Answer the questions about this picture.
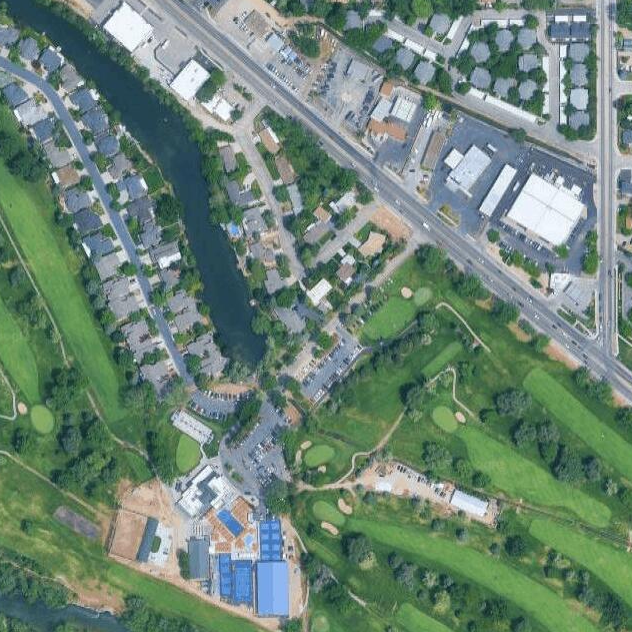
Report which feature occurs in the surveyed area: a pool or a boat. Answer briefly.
pool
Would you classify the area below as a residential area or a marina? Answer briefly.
residential area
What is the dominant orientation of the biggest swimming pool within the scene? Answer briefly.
at an angle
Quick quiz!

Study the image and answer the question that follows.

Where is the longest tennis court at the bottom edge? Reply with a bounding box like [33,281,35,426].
[234,560,252,601]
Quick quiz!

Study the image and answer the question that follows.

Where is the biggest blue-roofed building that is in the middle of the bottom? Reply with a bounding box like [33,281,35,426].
[258,562,289,618]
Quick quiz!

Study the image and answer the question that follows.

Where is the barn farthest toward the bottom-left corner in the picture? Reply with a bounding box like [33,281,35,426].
[137,518,159,562]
